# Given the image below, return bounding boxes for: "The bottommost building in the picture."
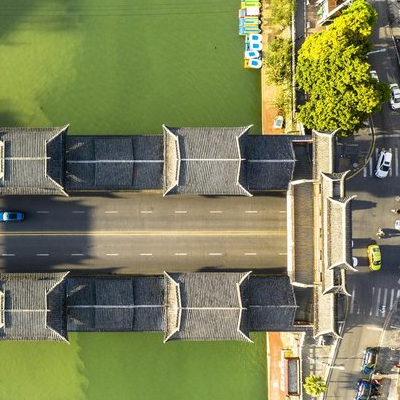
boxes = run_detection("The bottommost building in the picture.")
[280,356,300,393]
